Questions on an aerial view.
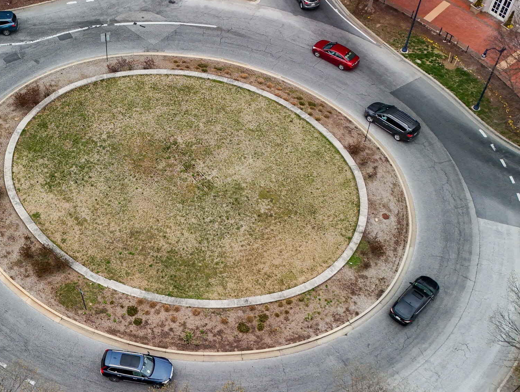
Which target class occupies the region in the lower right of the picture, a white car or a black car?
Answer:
black car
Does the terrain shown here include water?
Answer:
No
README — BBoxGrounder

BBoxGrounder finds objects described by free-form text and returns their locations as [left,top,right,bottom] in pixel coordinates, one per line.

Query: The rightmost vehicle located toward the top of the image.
[363,102,423,144]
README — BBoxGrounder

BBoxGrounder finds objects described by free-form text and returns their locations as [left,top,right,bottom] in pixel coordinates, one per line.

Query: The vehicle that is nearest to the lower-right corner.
[387,274,443,328]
